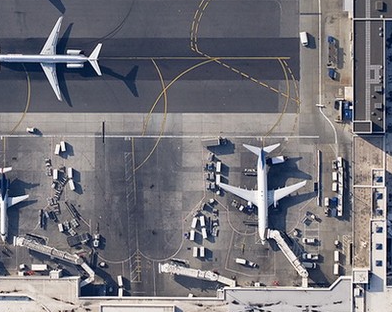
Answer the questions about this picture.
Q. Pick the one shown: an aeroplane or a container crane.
aeroplane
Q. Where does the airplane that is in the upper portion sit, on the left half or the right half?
left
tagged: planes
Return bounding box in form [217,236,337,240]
[0,17,102,99]
[0,166,30,239]
[220,145,307,244]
